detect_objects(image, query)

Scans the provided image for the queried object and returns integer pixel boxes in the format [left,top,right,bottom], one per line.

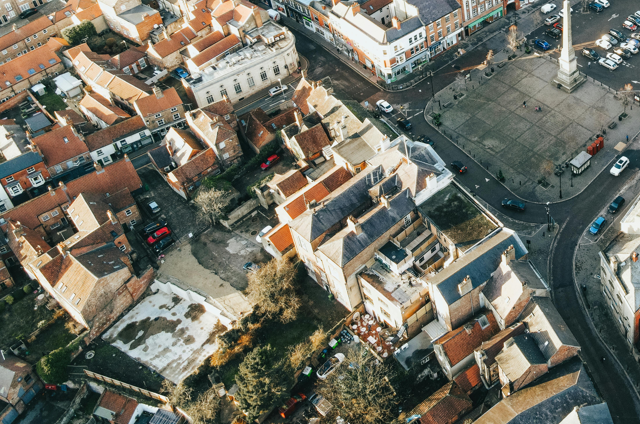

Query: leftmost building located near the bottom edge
[0,344,48,419]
